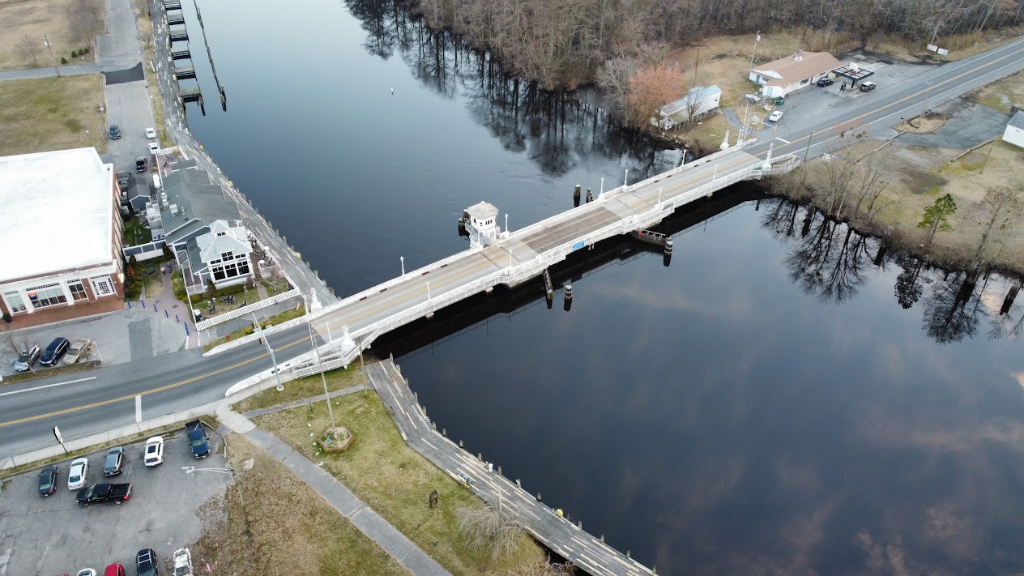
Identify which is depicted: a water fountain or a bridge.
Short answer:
bridge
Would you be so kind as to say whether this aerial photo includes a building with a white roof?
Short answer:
Yes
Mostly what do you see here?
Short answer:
water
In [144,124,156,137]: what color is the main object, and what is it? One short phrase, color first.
white vehicle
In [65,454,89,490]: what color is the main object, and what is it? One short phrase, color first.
white car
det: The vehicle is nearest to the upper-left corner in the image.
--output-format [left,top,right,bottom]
[107,122,120,138]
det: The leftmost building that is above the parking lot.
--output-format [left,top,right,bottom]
[0,145,128,320]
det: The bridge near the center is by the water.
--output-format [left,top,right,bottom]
[202,135,797,400]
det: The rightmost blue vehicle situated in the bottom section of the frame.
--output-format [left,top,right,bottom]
[185,415,209,457]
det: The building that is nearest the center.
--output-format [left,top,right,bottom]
[457,203,511,252]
